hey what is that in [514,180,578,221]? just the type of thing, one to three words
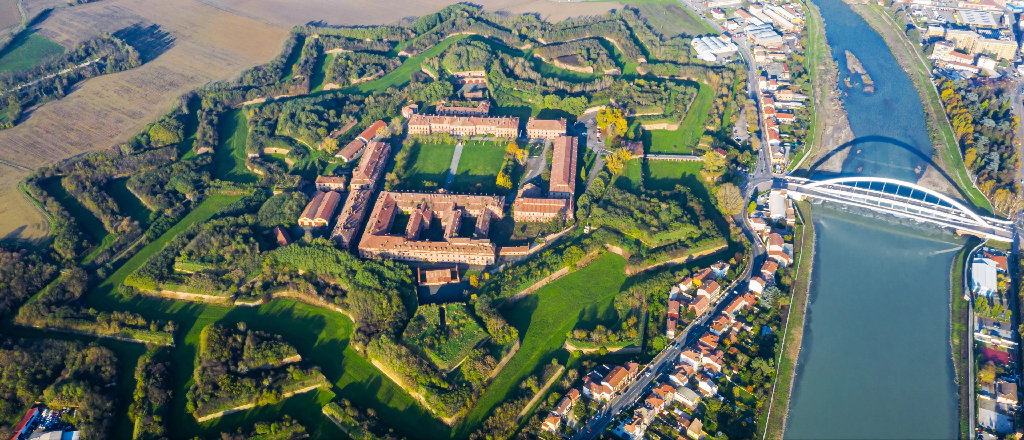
building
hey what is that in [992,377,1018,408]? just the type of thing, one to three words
house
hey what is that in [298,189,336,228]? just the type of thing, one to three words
shed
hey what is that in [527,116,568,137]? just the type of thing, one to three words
building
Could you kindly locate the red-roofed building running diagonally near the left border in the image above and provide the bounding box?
[11,406,40,440]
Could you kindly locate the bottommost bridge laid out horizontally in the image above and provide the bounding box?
[772,171,1013,242]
